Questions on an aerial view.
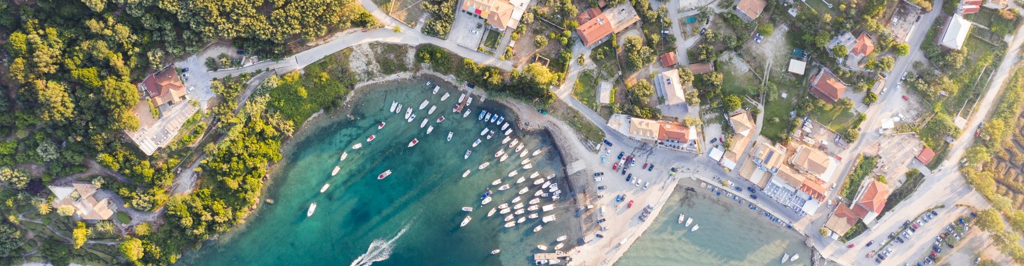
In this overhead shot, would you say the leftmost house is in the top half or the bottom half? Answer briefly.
bottom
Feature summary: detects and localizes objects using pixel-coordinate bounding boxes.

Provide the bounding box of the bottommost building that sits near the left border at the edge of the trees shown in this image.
[48,184,121,220]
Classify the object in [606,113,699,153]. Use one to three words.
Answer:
building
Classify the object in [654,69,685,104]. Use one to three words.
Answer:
house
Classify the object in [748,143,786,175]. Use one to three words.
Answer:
house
